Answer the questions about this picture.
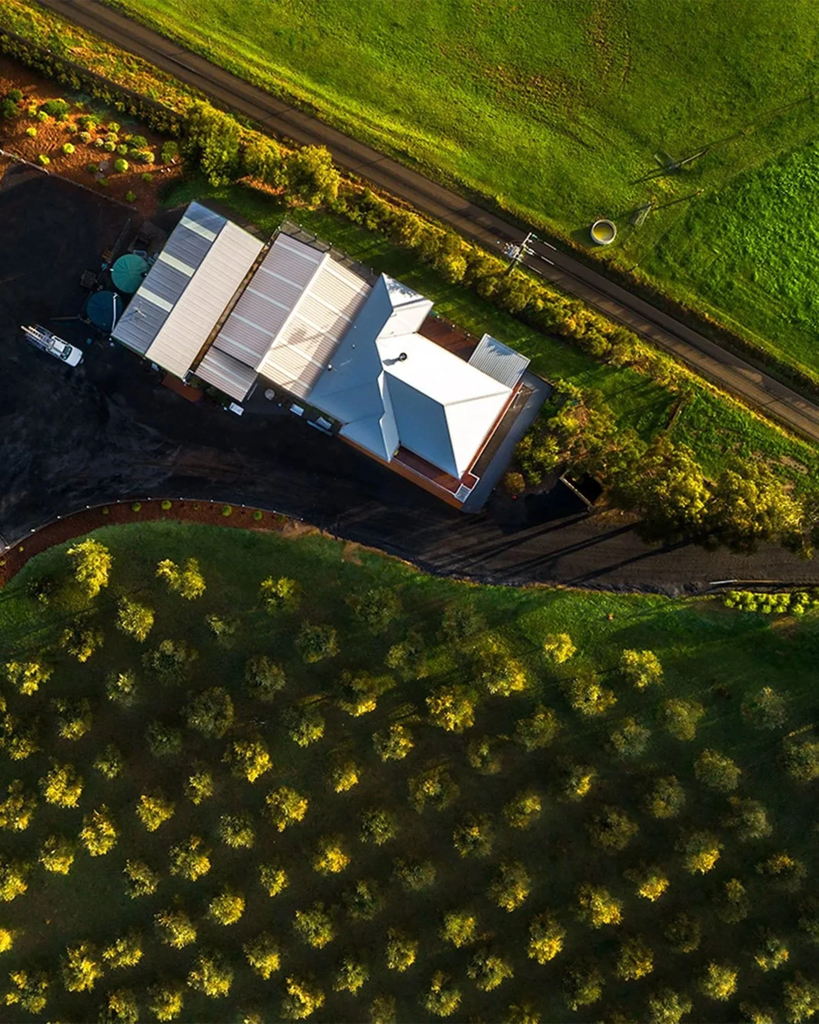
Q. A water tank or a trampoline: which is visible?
water tank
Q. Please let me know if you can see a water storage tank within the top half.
Yes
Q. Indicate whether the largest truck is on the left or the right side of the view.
left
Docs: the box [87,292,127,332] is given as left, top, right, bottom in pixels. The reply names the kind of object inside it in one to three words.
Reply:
water tank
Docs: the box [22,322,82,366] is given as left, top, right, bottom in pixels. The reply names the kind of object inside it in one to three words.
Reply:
truck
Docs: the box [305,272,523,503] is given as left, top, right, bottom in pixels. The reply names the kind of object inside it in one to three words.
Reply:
house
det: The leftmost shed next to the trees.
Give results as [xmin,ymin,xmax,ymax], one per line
[113,200,268,381]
